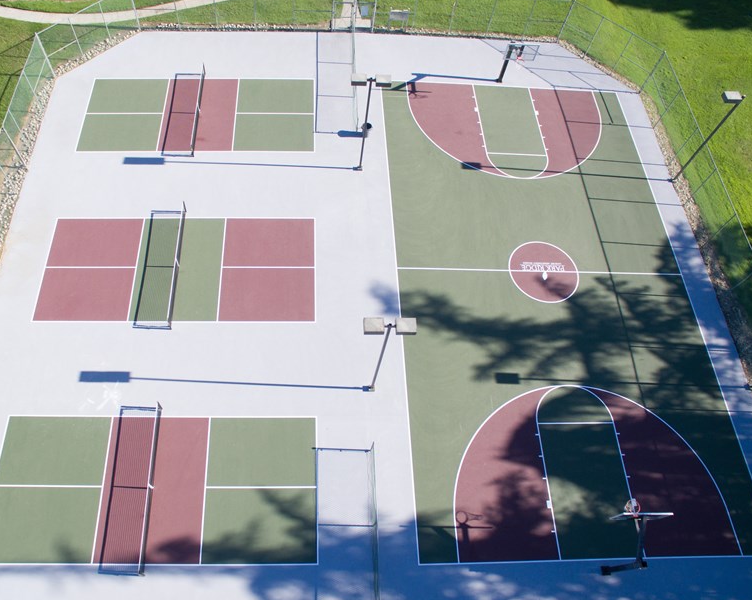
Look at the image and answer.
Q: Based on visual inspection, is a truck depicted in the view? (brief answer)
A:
No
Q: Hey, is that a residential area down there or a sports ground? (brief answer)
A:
sports ground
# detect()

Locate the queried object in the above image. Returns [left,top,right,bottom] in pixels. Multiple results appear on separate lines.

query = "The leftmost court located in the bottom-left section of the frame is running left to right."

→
[0,415,318,565]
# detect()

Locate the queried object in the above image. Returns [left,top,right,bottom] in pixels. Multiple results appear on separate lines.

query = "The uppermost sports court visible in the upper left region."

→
[76,78,315,152]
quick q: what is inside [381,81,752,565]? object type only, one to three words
basketball court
